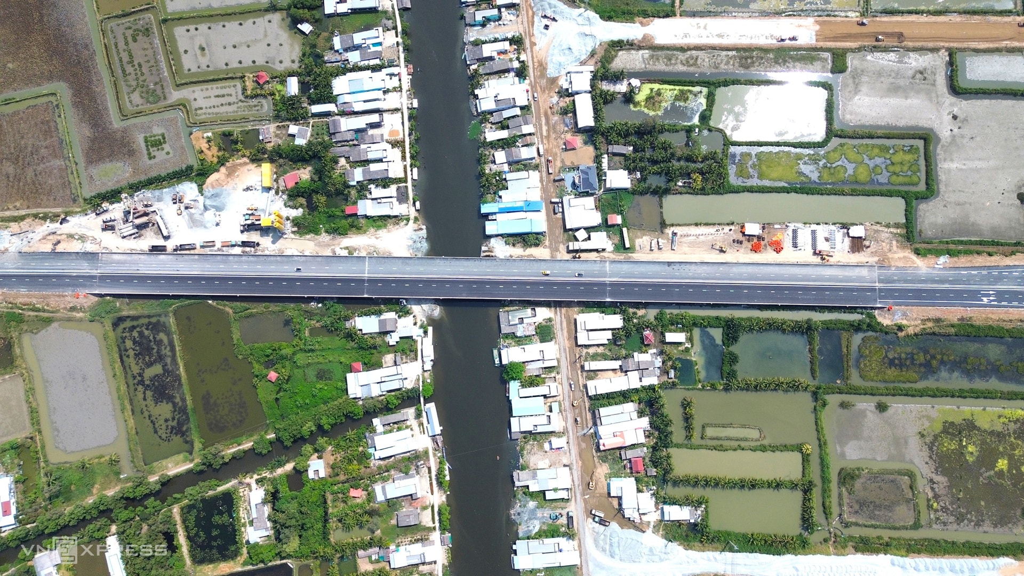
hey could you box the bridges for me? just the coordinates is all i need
[95,253,887,307]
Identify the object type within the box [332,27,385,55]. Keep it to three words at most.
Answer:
house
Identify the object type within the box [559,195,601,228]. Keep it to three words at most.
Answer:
building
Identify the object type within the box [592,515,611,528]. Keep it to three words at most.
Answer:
vehicle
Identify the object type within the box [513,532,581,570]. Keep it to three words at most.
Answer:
house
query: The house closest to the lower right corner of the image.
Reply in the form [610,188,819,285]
[659,503,696,522]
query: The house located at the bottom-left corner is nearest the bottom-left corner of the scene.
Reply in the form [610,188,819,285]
[32,544,65,576]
